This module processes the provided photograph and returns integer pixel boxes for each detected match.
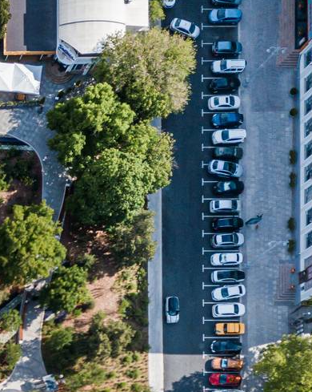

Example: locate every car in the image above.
[213,144,243,161]
[215,320,245,336]
[209,76,242,93]
[169,15,201,40]
[210,251,243,266]
[211,302,244,318]
[160,0,175,18]
[208,94,240,109]
[211,110,244,128]
[209,197,242,214]
[211,39,243,55]
[211,180,244,195]
[212,127,245,144]
[211,215,244,231]
[211,285,245,300]
[213,0,242,8]
[209,7,242,25]
[213,268,243,283]
[209,371,242,386]
[211,160,240,176]
[165,295,182,324]
[212,232,242,248]
[212,58,245,74]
